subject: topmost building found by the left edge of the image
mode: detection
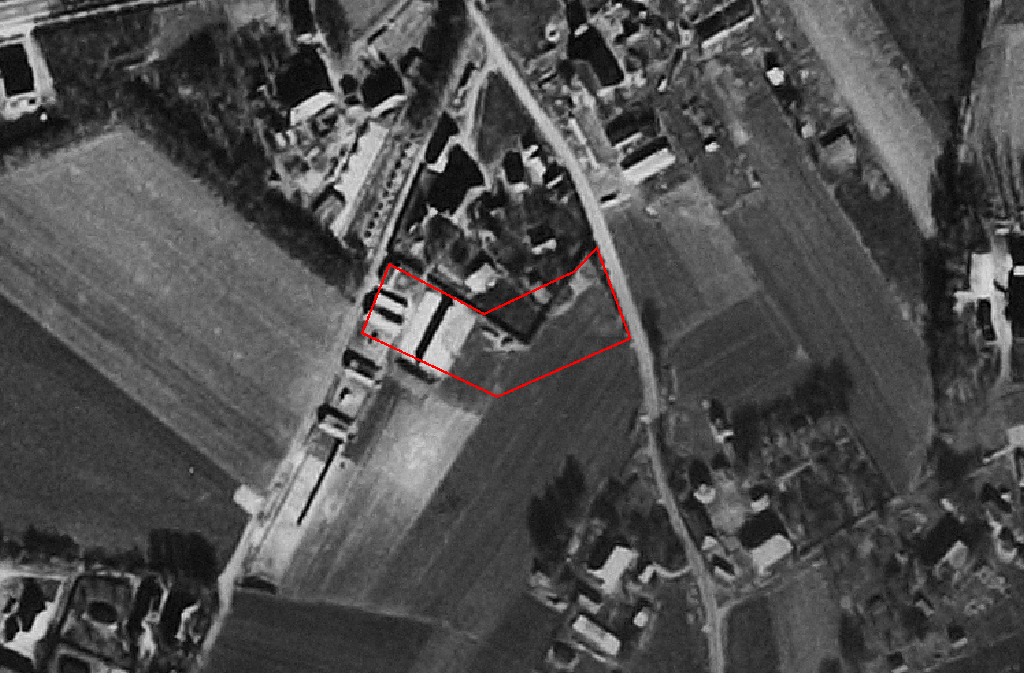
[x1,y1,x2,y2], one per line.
[0,50,34,95]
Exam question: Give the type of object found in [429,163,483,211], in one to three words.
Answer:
building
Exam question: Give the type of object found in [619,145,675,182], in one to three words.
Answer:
barn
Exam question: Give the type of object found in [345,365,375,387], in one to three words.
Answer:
house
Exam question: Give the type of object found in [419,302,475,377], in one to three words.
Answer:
shed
